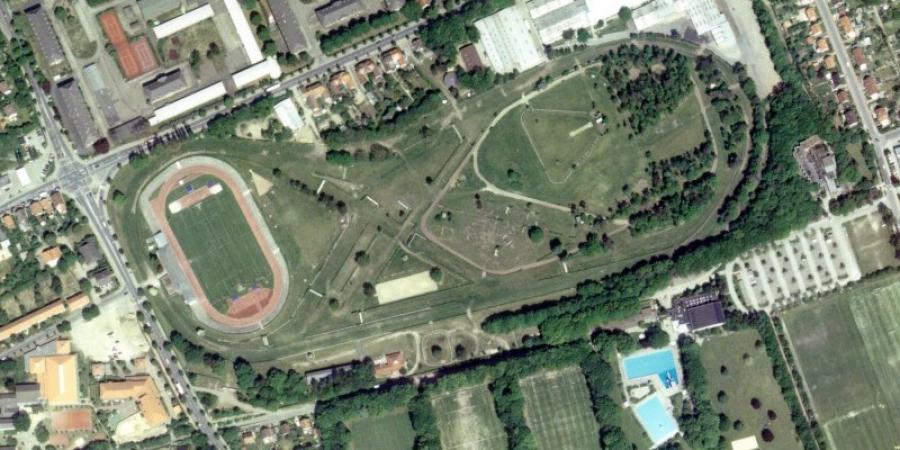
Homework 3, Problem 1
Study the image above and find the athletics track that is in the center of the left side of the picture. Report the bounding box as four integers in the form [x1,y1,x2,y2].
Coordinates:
[154,163,282,326]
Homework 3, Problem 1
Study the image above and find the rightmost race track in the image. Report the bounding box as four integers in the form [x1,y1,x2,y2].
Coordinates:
[298,45,747,350]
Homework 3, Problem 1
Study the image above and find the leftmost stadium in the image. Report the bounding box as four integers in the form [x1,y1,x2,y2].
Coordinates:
[139,155,289,333]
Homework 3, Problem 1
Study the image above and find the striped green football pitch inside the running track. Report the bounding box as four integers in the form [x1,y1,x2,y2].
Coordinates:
[165,173,273,319]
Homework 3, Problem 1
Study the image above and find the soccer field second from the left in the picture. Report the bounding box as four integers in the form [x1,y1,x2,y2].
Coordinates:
[345,409,417,450]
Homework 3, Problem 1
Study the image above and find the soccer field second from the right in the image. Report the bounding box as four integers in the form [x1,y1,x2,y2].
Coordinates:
[432,385,510,450]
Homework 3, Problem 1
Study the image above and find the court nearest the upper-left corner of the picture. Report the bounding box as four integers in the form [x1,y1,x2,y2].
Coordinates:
[100,10,127,50]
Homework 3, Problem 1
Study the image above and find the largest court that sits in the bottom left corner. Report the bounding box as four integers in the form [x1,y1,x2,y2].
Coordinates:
[53,410,91,432]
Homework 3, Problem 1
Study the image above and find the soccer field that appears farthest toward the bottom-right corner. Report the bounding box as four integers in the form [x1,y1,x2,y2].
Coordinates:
[521,367,602,450]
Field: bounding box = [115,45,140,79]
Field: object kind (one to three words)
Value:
tennis court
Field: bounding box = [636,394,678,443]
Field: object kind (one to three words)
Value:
swimming pool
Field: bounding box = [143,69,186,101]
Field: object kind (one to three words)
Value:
building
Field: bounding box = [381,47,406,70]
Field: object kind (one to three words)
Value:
house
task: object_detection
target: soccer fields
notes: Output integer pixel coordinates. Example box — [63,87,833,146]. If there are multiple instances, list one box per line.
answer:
[521,367,602,450]
[165,173,273,319]
[432,385,510,450]
[345,409,417,450]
